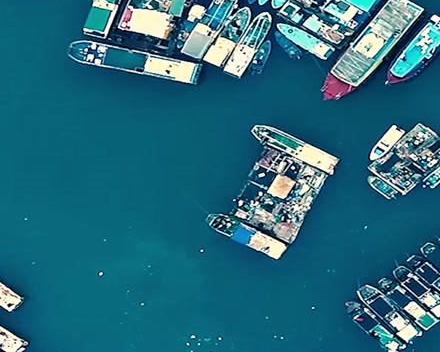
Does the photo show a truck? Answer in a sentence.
No, I can't see a single truck in this photo.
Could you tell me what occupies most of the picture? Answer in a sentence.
Most of the picture is covered by water.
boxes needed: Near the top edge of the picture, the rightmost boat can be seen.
[386,12,440,85]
